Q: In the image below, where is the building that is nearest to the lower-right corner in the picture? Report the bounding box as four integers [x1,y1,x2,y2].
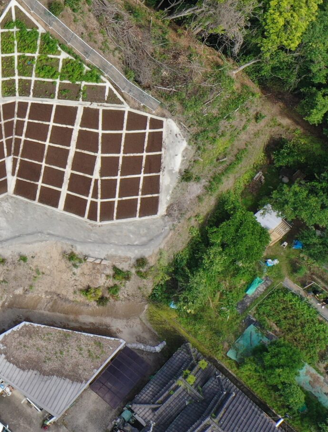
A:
[122,345,268,432]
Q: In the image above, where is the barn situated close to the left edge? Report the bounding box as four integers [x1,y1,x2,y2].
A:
[0,321,127,419]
